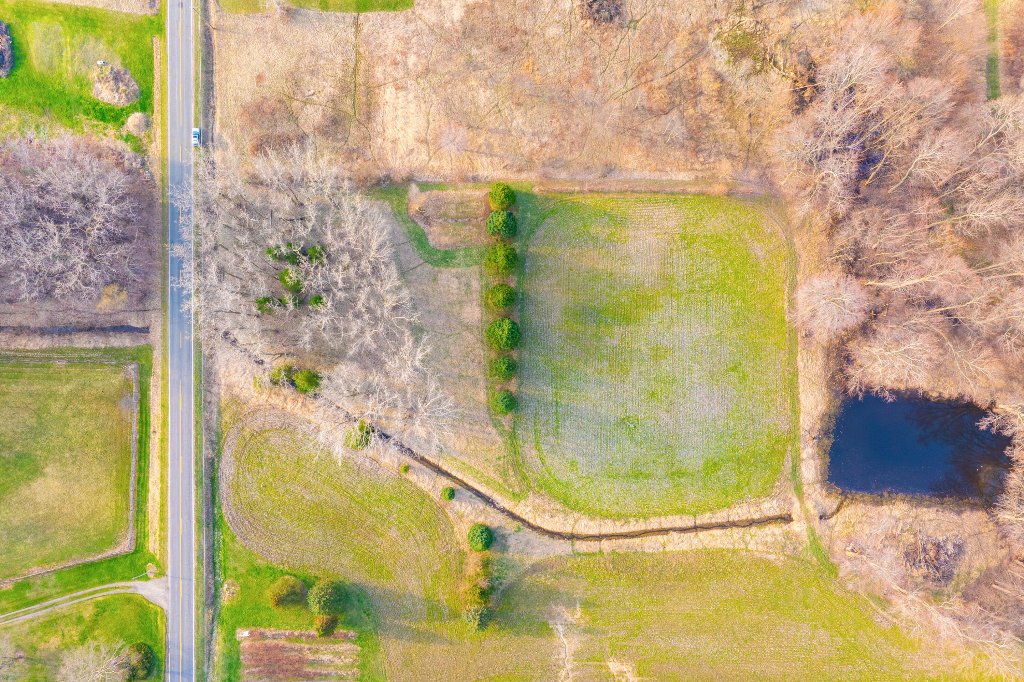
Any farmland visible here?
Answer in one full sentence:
Yes, there's farmland in this view.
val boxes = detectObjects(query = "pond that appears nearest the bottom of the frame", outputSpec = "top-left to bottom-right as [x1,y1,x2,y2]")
[826,389,1022,504]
